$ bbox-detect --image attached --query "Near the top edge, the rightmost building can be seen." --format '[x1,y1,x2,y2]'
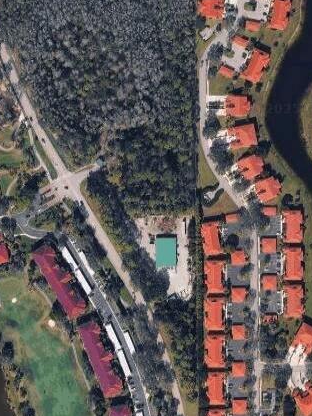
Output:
[270,0,290,30]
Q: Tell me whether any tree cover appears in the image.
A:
Yes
